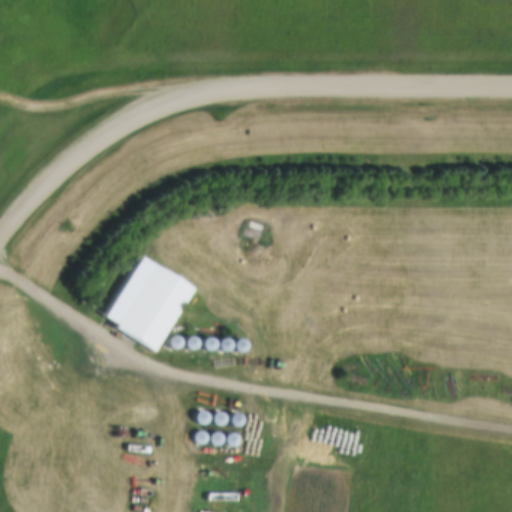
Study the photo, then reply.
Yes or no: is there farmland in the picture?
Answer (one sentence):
Yes, the picture does contain farmland.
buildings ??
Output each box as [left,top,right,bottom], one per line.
[107,256,196,352]
[244,221,264,242]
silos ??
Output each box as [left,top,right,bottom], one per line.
[210,430,227,450]
[196,408,212,428]
[219,336,235,354]
[230,410,247,430]
[185,334,202,353]
[168,334,184,352]
[226,432,243,449]
[202,335,218,353]
[214,409,230,428]
[235,337,251,355]
[194,430,210,448]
